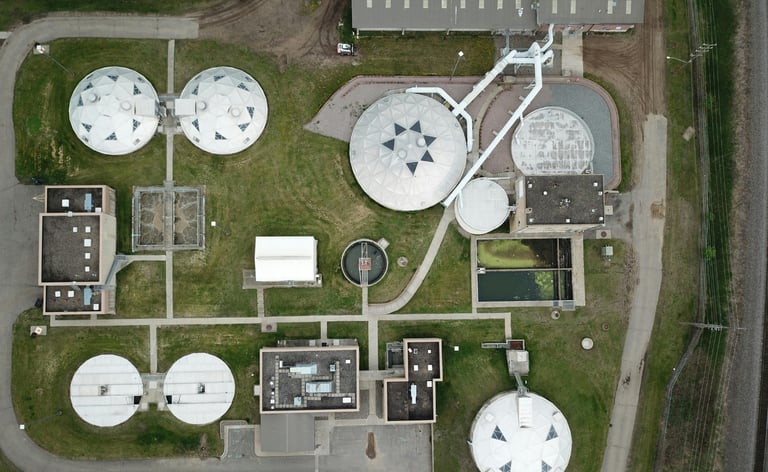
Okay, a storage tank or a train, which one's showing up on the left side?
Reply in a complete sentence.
The feature located on the left side is a storage tank.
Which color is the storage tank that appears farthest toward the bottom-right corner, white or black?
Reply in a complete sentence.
The storage tank that appears farthest toward the bottom-right corner is white.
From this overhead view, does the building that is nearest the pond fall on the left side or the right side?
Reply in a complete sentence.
It is on the right.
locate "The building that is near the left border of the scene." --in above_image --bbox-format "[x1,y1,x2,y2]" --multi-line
[38,185,118,315]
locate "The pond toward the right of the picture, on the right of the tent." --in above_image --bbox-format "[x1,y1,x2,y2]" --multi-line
[470,234,586,310]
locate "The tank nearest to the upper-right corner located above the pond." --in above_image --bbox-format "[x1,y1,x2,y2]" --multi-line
[512,108,592,177]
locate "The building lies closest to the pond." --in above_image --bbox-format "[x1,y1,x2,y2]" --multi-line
[508,176,604,231]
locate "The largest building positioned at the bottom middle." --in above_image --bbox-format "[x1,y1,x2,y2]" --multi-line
[254,346,360,414]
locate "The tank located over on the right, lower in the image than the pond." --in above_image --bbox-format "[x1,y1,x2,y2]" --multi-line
[467,390,572,472]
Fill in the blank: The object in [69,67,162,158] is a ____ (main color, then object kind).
white storage tank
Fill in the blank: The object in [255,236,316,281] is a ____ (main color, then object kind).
white tent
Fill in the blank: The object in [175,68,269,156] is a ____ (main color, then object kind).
white storage tank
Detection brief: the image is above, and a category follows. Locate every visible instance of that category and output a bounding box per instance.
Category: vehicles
[336,44,354,56]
